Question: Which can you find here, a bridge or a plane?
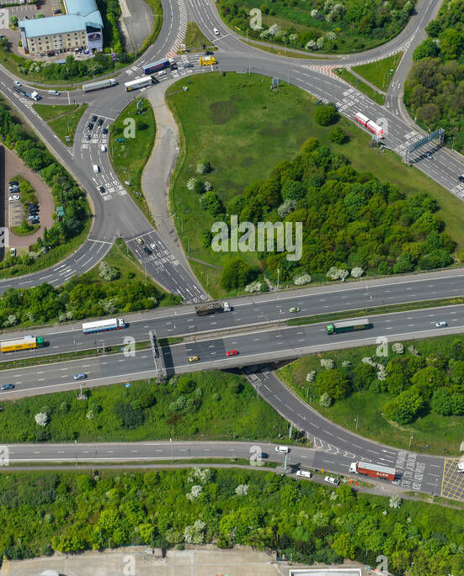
bridge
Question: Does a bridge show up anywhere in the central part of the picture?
Yes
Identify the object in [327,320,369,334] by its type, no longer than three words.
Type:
vehicle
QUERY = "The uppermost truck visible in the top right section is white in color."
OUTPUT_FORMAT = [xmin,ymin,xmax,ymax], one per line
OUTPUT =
[353,112,386,138]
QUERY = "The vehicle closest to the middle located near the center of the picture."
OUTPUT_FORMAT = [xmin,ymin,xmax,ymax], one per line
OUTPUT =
[195,303,232,316]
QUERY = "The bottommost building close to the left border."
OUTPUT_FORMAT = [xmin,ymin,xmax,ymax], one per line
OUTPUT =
[17,11,105,55]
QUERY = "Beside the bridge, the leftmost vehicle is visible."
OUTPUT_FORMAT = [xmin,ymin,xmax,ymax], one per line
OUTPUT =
[82,318,125,333]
